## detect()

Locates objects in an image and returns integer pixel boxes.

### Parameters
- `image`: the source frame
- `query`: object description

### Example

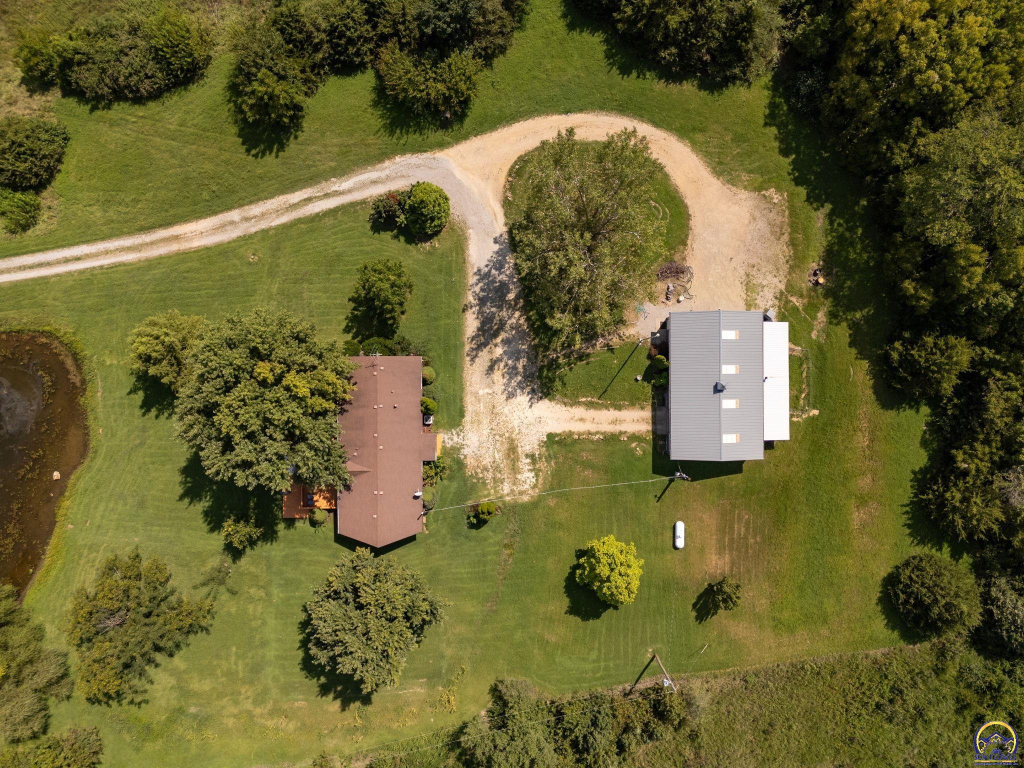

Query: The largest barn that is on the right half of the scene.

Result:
[666,308,765,461]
